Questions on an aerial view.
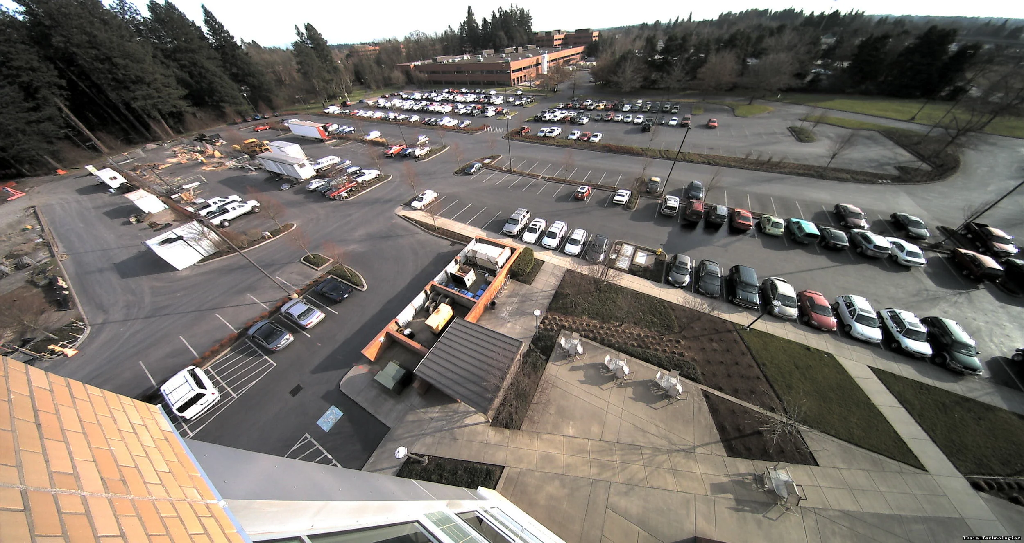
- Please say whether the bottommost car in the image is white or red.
white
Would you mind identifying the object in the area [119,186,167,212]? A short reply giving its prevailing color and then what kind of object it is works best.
white trailer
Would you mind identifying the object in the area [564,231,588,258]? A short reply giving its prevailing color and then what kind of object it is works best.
white car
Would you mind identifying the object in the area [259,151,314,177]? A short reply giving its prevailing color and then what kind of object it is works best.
white trailer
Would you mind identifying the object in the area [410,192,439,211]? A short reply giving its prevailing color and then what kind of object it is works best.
white car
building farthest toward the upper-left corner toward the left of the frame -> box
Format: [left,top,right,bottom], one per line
[134,219,226,268]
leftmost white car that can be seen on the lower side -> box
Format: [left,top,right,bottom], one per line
[158,367,223,419]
